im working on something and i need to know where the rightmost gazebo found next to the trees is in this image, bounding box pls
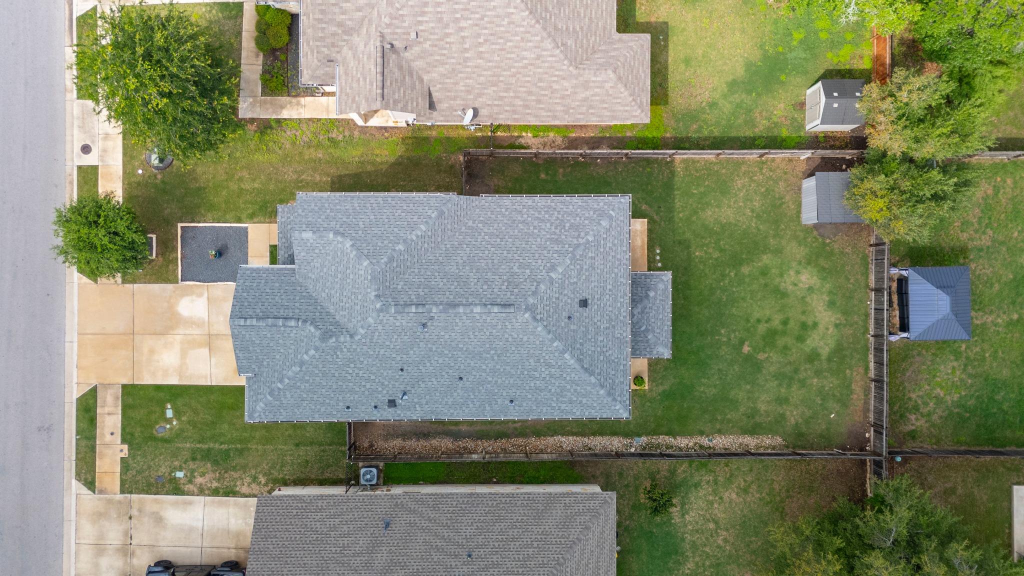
[882,265,973,341]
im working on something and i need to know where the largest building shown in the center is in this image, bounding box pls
[229,191,673,422]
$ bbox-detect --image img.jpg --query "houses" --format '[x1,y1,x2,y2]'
[256,0,651,129]
[229,191,673,422]
[247,483,617,576]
